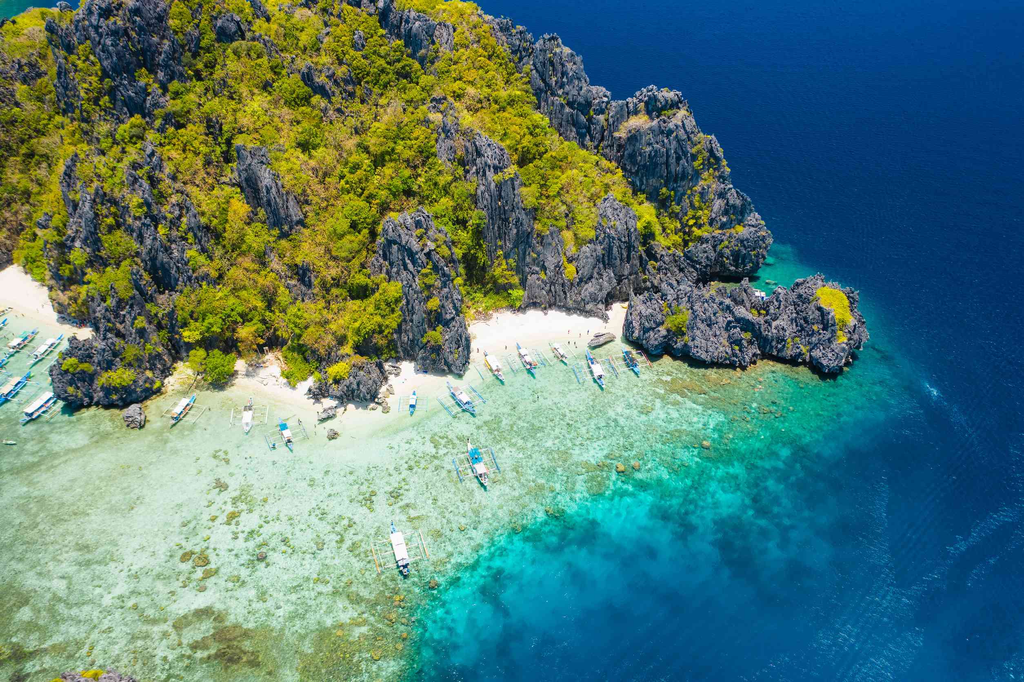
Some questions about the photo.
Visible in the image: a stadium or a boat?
boat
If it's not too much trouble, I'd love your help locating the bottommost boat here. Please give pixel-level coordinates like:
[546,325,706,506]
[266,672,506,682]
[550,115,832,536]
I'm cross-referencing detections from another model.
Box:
[372,504,430,578]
